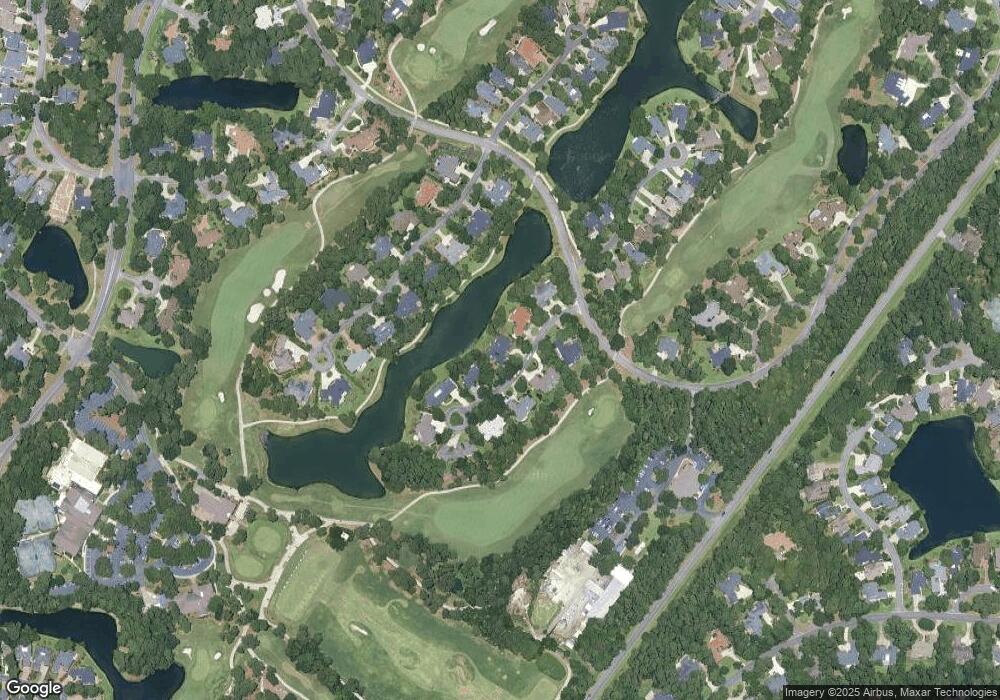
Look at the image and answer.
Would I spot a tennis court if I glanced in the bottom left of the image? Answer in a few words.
Yes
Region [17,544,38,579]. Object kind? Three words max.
tennis court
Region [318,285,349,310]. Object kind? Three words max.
house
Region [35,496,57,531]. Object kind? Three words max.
tennis court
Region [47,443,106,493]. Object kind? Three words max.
building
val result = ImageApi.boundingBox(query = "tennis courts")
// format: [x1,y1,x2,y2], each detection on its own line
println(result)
[34,541,56,576]
[18,499,39,534]
[17,544,38,579]
[35,496,57,531]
